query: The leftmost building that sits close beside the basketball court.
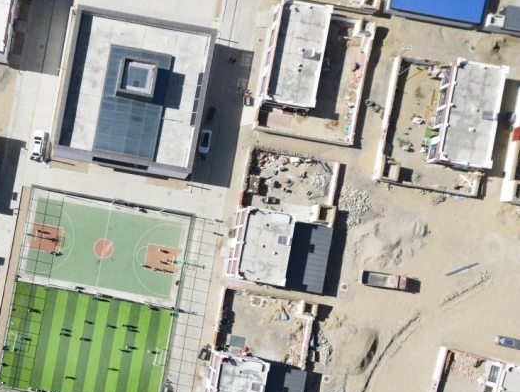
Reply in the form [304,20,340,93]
[54,5,217,182]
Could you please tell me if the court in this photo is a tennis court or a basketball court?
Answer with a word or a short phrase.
basketball court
